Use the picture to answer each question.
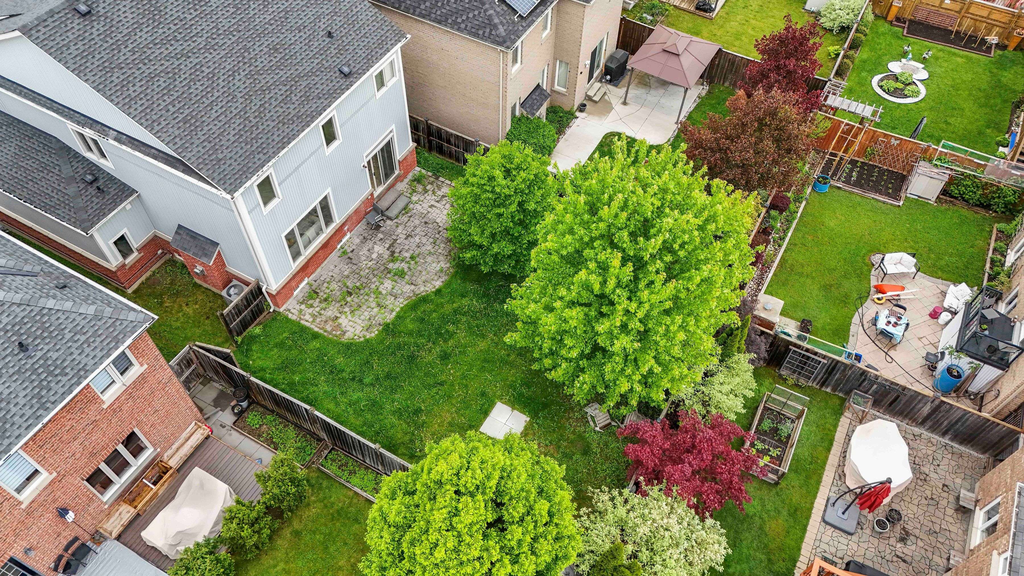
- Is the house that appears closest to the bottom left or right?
right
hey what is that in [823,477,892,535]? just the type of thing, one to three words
umbrella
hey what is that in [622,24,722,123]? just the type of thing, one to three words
gazebo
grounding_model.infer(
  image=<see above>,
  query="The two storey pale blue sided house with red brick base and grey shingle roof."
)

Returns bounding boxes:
[0,0,418,316]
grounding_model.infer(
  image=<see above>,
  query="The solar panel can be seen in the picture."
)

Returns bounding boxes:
[510,0,547,20]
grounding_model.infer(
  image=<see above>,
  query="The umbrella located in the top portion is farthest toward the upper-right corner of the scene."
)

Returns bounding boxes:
[909,113,929,145]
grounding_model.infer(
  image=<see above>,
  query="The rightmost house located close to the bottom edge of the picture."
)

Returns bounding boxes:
[951,438,1024,576]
